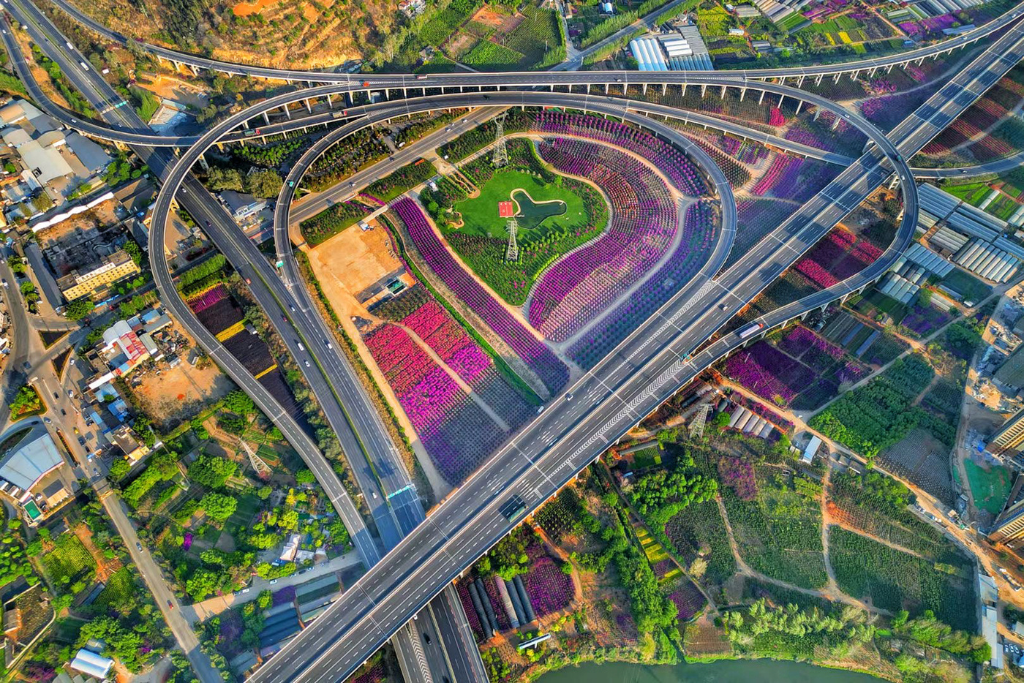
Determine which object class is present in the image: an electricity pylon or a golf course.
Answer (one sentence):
The one in the frame is an electricity pylon.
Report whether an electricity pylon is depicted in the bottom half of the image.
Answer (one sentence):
Yes, an electricity pylon shows up in the bottom half of the image.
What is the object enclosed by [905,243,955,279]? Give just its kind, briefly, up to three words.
greenhouse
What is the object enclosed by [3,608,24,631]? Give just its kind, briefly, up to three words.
house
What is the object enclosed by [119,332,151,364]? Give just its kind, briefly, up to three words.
building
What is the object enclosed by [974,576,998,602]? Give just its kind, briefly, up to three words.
shed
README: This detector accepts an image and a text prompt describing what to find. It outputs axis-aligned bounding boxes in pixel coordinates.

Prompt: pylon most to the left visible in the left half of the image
[232,440,270,481]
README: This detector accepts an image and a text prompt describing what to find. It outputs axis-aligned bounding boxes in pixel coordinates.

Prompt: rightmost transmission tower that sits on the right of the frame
[686,403,721,445]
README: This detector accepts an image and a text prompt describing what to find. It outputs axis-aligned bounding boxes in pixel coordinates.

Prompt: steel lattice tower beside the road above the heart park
[492,121,509,168]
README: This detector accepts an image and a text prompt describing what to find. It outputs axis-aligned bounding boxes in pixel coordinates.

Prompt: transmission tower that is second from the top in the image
[502,225,522,263]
